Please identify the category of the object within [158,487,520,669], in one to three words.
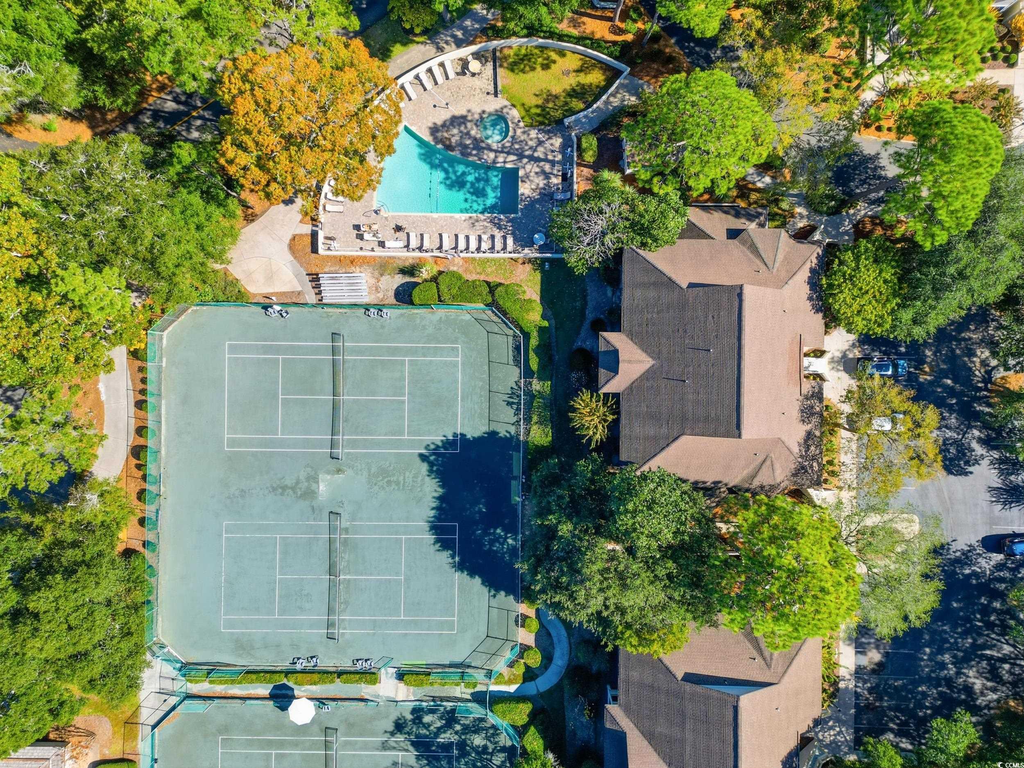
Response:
tennis court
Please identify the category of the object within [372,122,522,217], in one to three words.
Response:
swimming pool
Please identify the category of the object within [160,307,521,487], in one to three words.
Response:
tennis court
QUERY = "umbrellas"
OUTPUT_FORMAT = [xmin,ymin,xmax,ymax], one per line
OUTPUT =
[289,696,316,724]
